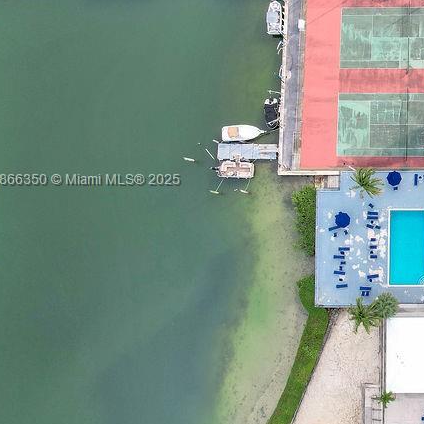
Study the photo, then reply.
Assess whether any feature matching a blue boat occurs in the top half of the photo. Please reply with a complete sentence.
No, no blue boat appears in the top half of the photo.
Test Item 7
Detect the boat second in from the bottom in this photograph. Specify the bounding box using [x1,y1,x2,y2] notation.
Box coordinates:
[222,125,265,141]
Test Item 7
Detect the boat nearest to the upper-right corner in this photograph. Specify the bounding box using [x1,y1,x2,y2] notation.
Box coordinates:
[267,1,282,36]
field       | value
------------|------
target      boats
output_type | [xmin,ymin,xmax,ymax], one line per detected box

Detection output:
[214,161,254,178]
[267,1,282,36]
[264,98,278,127]
[222,125,265,141]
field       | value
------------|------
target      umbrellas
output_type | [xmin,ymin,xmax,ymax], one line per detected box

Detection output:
[386,171,402,186]
[335,212,351,228]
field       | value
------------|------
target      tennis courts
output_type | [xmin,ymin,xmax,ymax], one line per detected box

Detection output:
[300,82,424,169]
[304,0,424,82]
